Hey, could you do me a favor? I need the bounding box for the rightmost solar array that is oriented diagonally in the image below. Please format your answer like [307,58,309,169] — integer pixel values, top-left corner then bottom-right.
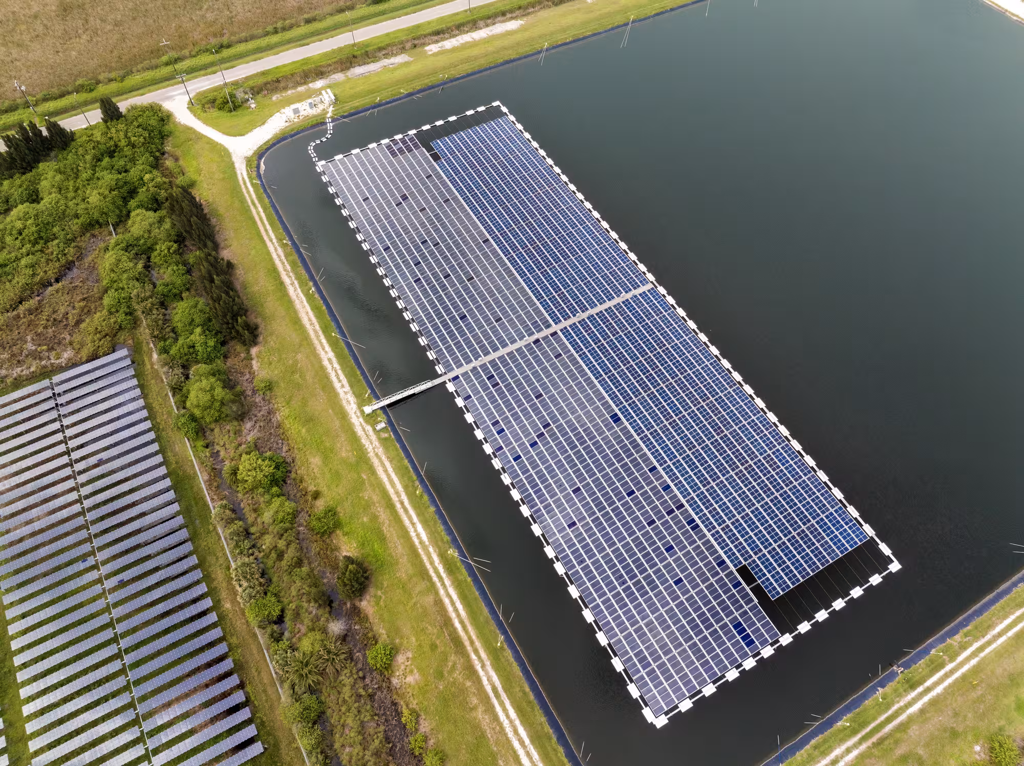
[321,109,890,718]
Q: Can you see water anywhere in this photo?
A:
Yes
